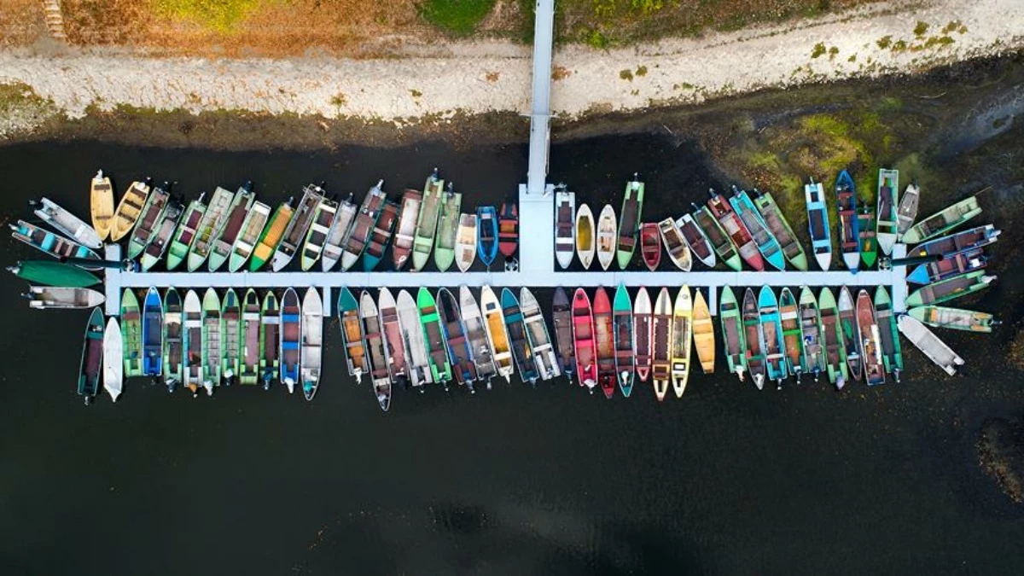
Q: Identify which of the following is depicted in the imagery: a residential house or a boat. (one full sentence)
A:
Looking from above, you can make out a boat.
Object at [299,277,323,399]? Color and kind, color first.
white boat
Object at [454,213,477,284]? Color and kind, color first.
white boat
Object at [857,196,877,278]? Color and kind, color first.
green boat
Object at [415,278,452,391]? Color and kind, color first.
green boat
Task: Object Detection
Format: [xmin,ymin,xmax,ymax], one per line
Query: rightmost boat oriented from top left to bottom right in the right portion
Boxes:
[894,308,965,374]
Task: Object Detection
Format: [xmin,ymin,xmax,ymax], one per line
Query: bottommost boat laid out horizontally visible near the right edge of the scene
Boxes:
[897,305,1001,332]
